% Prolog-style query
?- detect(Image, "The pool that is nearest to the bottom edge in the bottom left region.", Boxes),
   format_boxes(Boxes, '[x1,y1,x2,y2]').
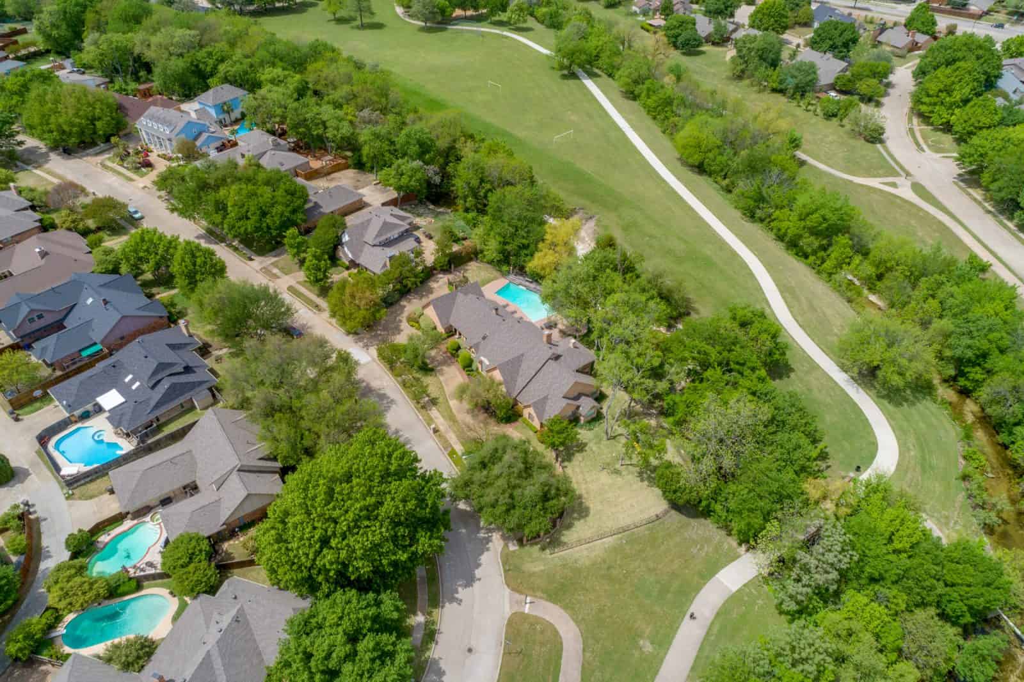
[42,591,173,652]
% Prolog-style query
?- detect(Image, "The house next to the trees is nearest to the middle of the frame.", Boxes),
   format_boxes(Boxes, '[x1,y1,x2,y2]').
[430,281,600,430]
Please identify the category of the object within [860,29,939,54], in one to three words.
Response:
house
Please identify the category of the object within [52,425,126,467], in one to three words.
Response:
swimming pool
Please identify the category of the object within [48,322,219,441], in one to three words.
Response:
house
